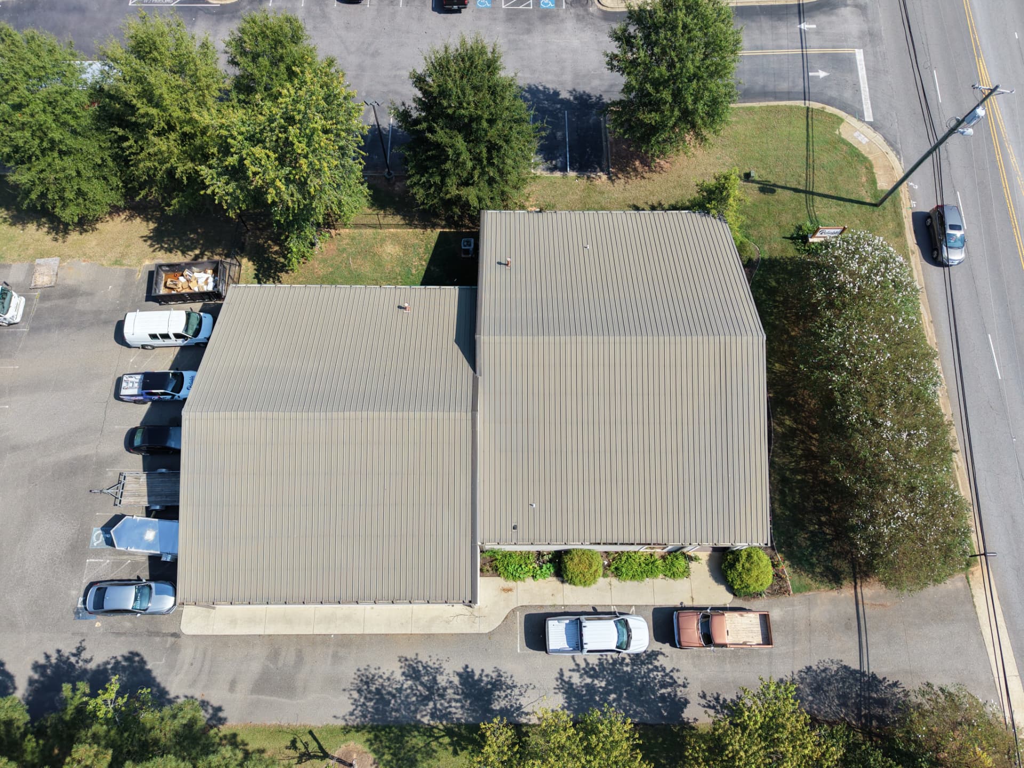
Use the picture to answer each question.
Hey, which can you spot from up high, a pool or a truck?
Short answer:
truck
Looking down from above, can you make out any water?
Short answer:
No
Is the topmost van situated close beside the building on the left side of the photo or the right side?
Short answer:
left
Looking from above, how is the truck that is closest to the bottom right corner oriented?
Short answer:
horizontally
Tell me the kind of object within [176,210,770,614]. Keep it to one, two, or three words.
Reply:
building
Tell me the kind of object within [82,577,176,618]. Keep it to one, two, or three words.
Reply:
car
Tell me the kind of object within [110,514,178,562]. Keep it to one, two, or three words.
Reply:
trailer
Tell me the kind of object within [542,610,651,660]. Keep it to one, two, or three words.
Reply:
truck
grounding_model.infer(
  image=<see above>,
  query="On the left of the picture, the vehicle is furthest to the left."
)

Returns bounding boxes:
[0,276,32,324]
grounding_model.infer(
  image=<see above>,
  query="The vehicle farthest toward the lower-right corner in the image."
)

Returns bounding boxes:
[670,606,776,653]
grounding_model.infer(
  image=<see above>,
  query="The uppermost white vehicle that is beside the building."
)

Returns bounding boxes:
[117,307,217,350]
